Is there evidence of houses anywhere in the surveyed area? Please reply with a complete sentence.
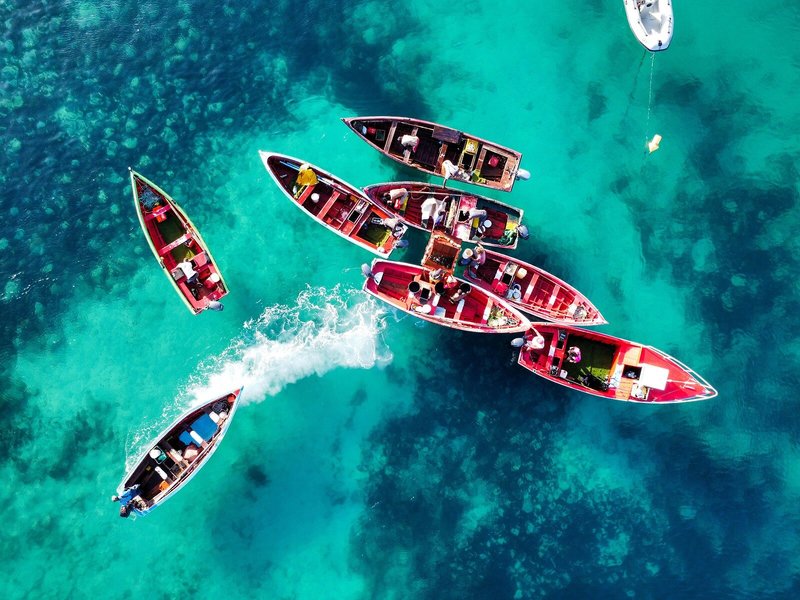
No, there's no house here.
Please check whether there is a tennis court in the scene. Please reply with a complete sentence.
No, no tennis court can be seen from above.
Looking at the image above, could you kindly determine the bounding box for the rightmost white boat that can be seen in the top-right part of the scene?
[627,0,676,51]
